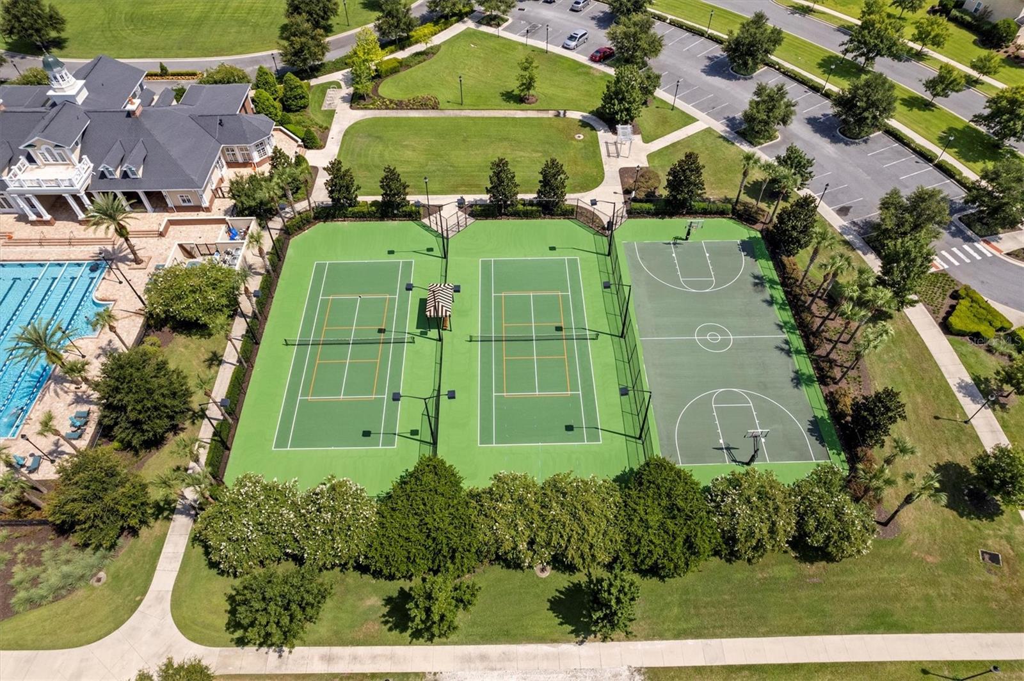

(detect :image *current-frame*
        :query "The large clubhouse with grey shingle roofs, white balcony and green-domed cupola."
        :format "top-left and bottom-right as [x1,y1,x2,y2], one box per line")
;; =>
[0,35,278,219]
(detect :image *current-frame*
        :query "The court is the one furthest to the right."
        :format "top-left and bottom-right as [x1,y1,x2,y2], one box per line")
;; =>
[607,218,849,491]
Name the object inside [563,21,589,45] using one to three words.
car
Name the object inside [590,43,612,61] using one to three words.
car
